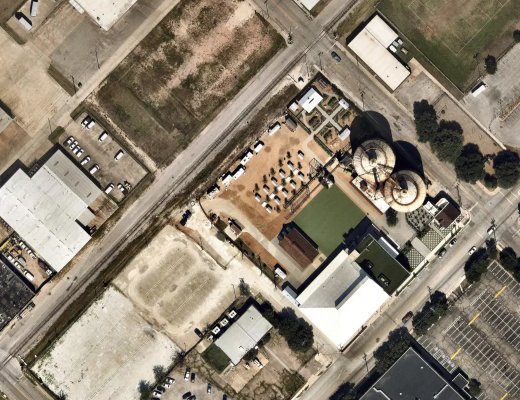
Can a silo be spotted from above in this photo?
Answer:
Yes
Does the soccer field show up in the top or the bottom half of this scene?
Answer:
top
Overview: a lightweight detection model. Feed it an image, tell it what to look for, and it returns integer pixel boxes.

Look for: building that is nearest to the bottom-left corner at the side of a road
[0,257,36,324]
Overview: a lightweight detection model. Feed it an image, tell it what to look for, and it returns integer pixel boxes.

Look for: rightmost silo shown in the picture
[385,170,428,212]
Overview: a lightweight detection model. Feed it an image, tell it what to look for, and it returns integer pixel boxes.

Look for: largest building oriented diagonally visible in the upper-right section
[348,26,411,90]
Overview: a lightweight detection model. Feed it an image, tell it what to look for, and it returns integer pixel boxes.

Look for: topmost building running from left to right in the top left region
[70,0,134,31]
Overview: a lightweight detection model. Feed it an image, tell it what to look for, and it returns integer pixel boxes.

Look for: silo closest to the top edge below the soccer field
[354,139,397,181]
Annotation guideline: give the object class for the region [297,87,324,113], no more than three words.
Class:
house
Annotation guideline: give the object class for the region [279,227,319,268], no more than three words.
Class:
barn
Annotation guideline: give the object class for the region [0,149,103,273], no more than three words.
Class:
building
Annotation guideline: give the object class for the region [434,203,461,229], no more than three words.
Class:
building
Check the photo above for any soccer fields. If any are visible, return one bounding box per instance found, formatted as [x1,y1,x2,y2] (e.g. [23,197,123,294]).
[377,0,520,94]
